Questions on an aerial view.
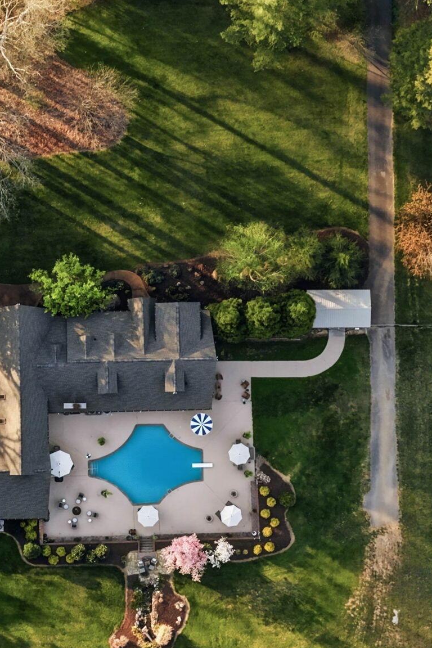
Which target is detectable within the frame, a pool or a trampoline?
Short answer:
pool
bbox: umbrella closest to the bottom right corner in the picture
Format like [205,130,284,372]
[219,504,241,525]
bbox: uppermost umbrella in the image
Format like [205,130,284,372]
[189,413,212,435]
